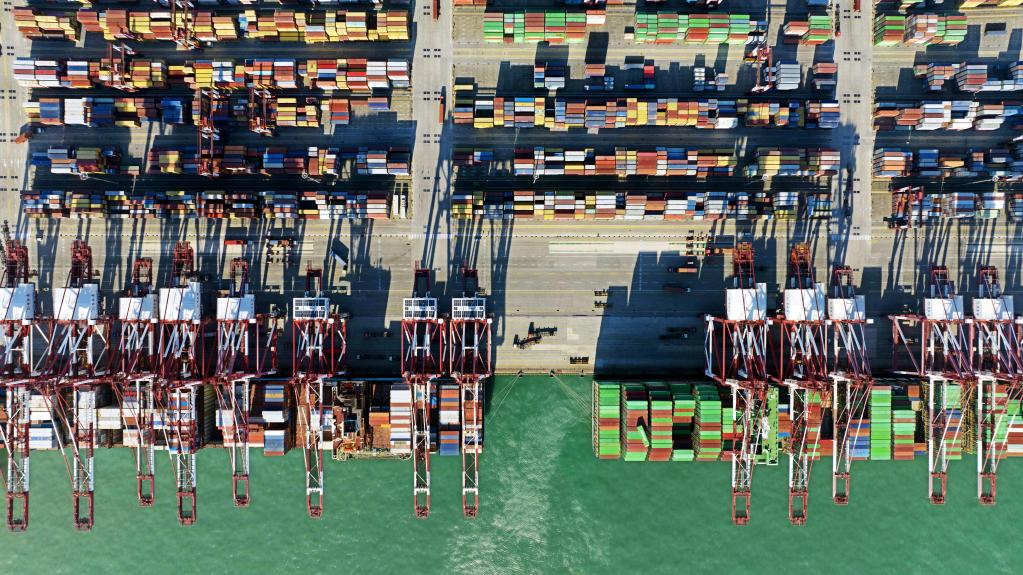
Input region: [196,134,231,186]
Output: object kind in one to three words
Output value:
crane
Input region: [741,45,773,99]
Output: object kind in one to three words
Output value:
crane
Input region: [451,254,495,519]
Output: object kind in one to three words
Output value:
container crane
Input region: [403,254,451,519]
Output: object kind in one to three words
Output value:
container crane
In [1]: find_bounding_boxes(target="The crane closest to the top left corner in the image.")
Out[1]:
[106,45,146,99]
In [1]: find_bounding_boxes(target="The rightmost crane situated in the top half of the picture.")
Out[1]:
[877,184,916,229]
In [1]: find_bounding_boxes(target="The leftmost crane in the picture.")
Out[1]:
[0,241,87,529]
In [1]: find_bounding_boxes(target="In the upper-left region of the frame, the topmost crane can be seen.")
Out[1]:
[171,0,207,55]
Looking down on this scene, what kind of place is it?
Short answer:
port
